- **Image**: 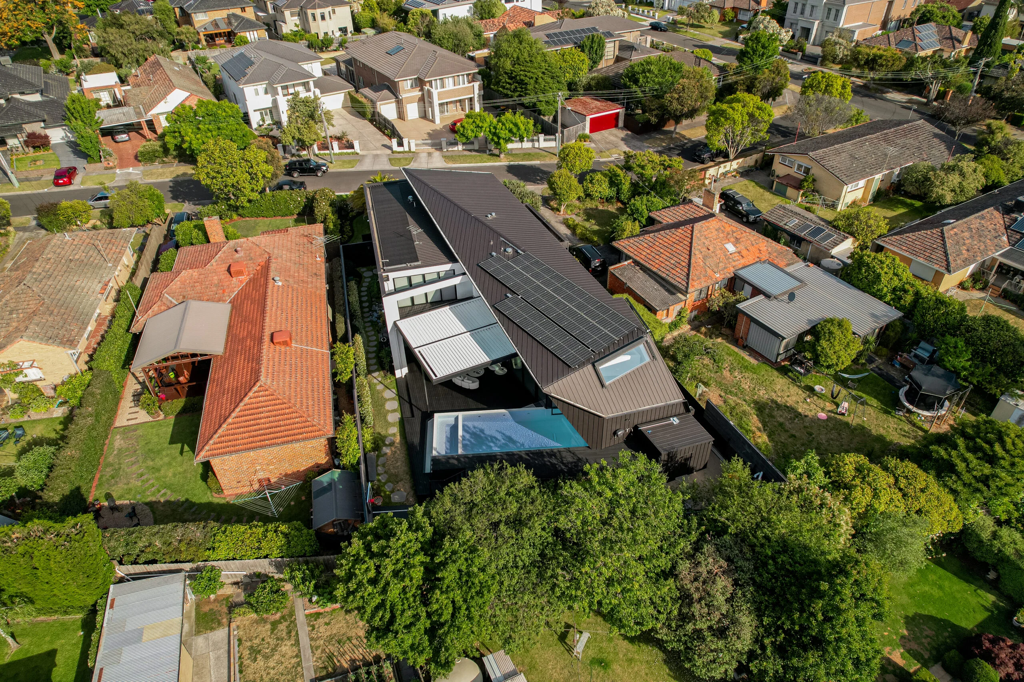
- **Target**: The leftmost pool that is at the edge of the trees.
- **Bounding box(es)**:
[425,401,591,493]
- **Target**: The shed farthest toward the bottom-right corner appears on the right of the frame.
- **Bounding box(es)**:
[982,398,1024,452]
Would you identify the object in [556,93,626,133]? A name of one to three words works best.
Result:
building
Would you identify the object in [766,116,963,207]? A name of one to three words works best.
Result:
house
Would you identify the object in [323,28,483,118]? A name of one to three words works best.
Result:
house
